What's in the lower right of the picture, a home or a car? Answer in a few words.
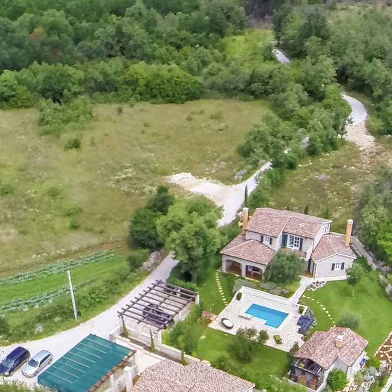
home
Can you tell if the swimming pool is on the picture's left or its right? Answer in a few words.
right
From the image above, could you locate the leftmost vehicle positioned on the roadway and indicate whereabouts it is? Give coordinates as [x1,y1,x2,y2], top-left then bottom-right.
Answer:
[0,345,29,373]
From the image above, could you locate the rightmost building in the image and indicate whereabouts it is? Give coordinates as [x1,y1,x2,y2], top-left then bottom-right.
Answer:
[290,327,368,390]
